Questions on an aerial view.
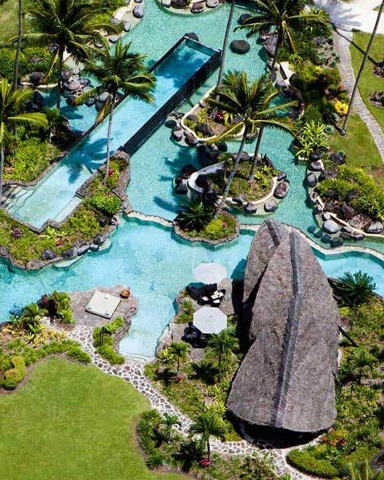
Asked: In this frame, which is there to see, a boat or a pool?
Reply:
pool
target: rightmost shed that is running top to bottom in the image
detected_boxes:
[227,219,342,451]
